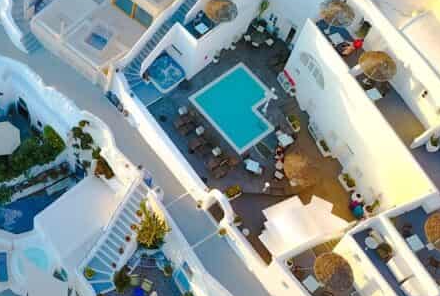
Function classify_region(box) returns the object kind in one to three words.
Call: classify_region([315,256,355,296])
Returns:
umbrella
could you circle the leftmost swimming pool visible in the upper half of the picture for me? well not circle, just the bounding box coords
[84,26,117,52]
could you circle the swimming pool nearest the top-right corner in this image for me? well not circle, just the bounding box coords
[190,63,274,155]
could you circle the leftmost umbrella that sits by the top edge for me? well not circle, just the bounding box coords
[206,2,236,29]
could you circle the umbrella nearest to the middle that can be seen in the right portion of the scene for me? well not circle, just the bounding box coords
[282,160,315,192]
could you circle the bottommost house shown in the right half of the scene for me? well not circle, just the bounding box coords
[248,195,346,270]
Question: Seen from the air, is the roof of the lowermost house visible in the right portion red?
No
